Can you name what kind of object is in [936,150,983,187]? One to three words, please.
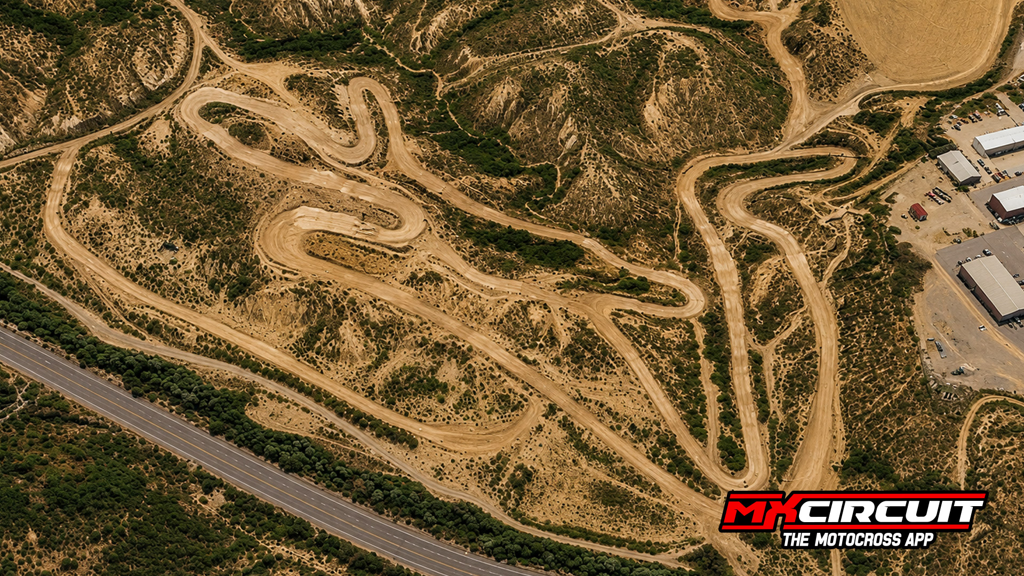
building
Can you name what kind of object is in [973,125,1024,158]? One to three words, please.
hangar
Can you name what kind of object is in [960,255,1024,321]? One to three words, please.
building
